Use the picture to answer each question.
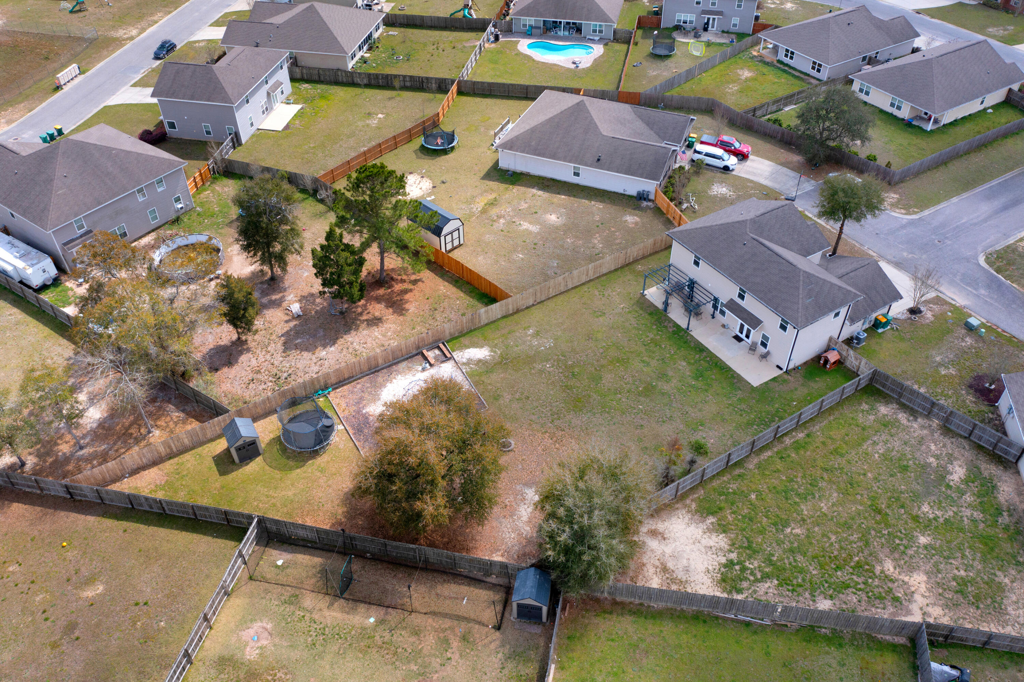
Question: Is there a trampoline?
Yes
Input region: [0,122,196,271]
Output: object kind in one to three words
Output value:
house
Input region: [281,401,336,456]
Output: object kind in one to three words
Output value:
trampoline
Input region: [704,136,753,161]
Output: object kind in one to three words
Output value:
vehicle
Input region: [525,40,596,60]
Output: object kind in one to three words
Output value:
swimming pool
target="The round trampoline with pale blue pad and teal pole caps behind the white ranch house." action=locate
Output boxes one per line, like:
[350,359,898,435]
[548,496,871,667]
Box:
[424,120,456,154]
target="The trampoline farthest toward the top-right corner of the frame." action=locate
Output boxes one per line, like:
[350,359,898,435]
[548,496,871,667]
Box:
[649,33,677,60]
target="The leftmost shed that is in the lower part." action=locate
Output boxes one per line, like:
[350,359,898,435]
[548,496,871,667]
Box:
[222,417,265,465]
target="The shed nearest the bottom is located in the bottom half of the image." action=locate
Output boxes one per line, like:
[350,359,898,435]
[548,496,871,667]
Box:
[511,569,552,624]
